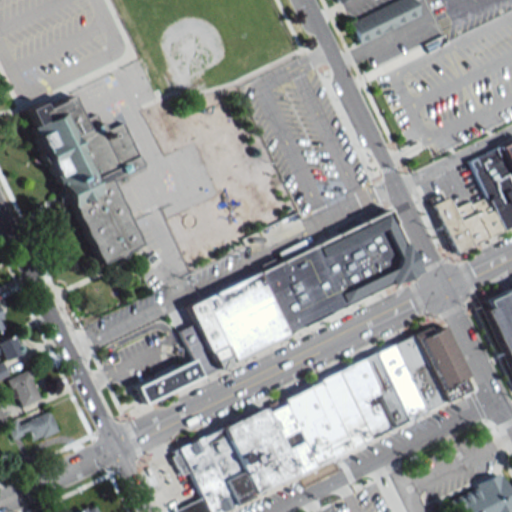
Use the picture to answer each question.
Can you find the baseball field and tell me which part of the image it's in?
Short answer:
top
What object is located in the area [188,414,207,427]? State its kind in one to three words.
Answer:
vehicle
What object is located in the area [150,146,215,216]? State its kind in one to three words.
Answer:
sports court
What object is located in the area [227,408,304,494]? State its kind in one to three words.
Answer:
building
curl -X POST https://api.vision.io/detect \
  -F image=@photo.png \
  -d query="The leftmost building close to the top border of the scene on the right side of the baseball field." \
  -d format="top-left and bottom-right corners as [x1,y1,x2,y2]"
[358,0,422,44]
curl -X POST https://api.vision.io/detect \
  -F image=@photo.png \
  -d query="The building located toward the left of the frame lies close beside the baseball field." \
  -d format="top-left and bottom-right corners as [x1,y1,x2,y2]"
[36,98,146,264]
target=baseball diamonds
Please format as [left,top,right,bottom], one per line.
[114,0,297,98]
